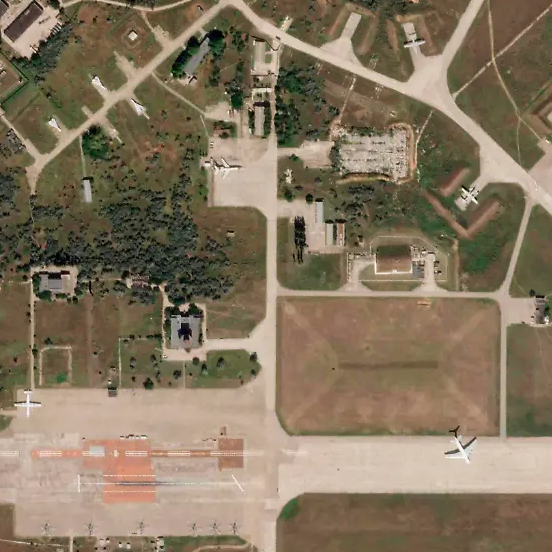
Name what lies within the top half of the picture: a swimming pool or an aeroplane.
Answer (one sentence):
What appears within the top half of the picture is an aeroplane.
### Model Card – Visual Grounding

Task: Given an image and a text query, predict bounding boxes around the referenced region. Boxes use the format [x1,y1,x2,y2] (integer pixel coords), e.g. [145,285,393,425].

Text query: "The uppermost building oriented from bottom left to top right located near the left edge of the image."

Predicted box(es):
[5,1,46,42]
